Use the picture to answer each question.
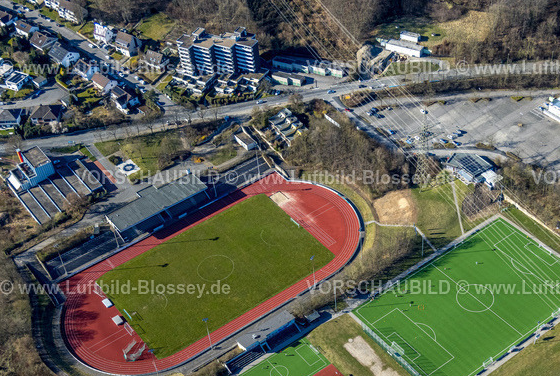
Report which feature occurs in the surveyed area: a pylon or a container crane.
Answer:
pylon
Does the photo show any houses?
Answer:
Yes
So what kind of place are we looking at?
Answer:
sports ground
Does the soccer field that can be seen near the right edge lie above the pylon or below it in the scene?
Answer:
below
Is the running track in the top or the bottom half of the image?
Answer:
bottom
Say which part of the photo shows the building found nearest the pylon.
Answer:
right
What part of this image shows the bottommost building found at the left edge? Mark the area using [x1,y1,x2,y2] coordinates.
[0,142,104,228]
